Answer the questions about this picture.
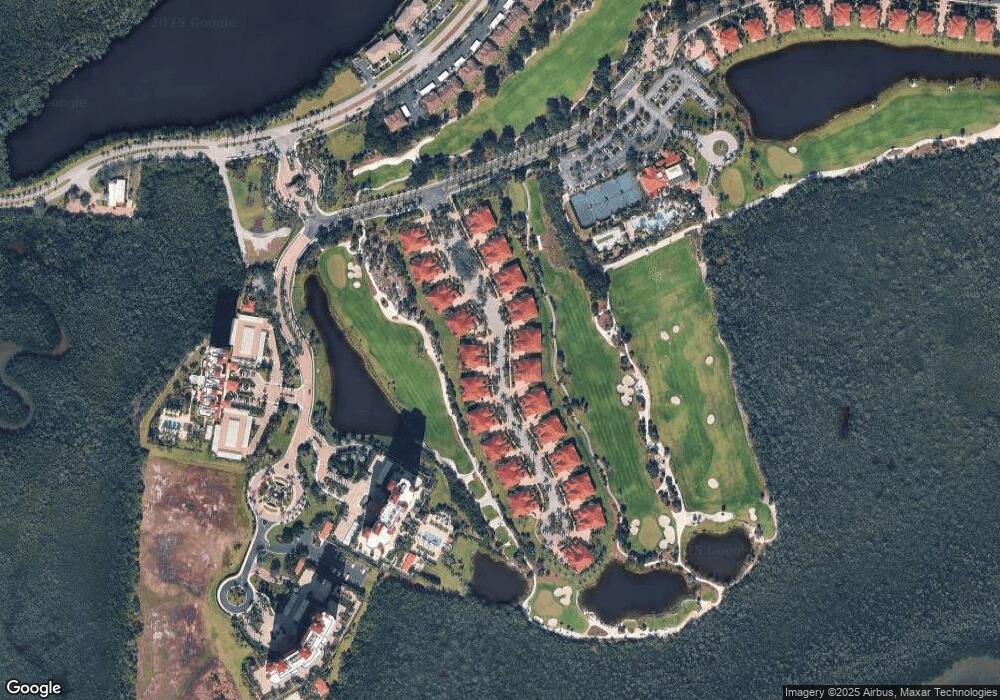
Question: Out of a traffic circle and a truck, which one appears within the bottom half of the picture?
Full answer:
The feature located within the bottom half of the picture is a traffic circle.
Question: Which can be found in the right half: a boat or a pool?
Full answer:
Looking in the right half, you will find a pool.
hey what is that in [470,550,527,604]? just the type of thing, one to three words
pond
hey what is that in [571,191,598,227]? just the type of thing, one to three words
tennis court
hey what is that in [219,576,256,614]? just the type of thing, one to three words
roundabout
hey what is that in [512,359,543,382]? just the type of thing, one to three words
house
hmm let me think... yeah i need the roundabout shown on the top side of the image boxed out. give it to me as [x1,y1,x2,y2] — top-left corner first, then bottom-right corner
[701,131,737,167]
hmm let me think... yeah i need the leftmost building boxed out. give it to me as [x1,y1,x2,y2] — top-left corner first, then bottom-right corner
[109,179,126,203]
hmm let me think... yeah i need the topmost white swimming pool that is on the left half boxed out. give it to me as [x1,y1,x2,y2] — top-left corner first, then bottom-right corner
[159,408,191,439]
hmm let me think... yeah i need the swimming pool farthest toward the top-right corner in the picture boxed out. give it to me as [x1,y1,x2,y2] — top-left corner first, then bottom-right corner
[694,57,711,73]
